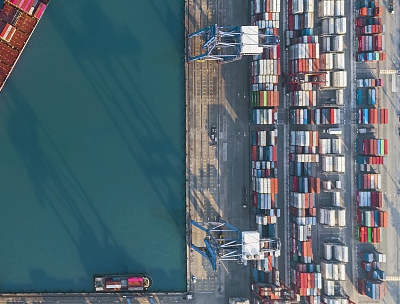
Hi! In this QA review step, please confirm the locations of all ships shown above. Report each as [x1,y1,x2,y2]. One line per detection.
[0,0,50,91]
[94,274,152,291]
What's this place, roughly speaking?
port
